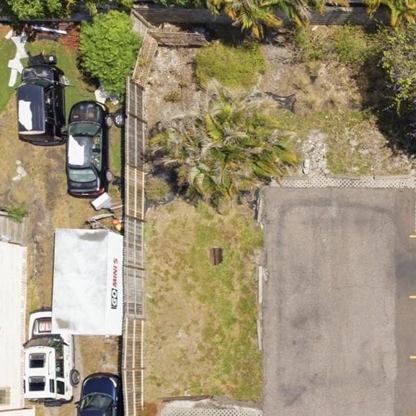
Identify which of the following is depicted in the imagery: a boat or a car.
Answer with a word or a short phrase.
car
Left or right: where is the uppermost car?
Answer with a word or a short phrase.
left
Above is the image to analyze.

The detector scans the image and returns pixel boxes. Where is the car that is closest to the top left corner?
[9,53,64,148]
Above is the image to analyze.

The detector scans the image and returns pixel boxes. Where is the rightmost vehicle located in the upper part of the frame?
[54,101,109,198]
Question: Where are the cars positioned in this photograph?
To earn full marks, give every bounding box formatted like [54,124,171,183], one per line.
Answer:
[9,53,64,148]
[71,369,125,416]
[17,308,78,410]
[54,101,109,198]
